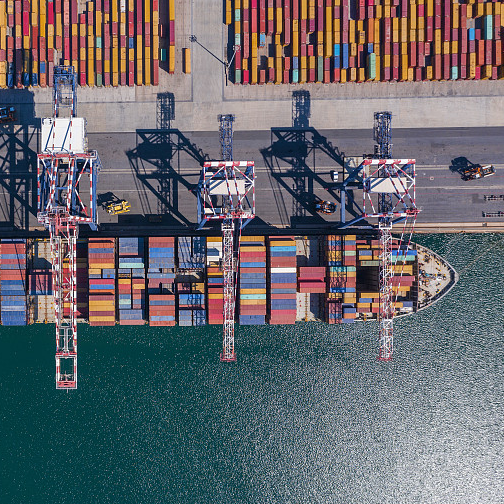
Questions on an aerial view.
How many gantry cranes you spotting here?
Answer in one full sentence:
My tally gives 3 gantry cranes in this view.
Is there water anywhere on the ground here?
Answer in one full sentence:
Yes, water can be seen from above here.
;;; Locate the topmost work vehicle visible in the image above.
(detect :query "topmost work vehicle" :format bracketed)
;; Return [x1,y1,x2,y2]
[0,106,18,123]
